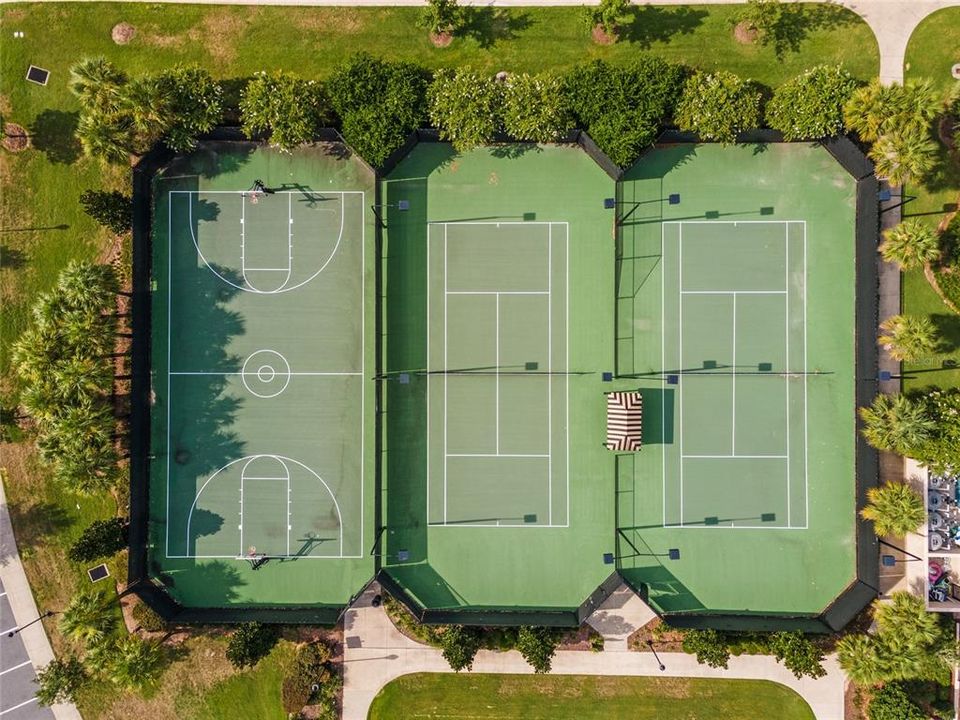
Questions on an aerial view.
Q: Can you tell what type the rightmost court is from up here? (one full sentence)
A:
I'd say the rightmost court is a tennis court.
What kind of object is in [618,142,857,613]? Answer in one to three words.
tennis court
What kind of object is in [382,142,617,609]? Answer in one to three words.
tennis court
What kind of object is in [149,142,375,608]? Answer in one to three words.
basketball court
